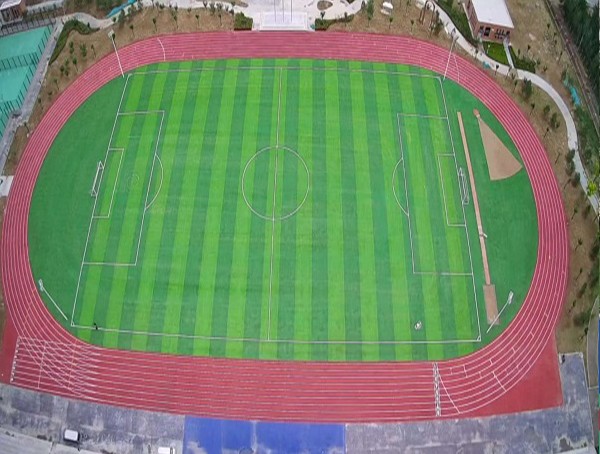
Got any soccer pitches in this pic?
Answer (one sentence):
Yes, there is a soccer pitch in the image.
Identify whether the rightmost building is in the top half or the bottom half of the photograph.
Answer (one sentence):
It is in the top half that the rightmost building appears.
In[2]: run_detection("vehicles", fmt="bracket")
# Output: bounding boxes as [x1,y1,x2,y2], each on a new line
[155,447,179,454]
[63,430,83,445]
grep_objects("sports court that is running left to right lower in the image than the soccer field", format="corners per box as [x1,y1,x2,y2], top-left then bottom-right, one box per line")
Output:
[183,415,346,454]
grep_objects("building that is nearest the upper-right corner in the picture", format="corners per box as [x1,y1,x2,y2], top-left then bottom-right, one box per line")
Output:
[459,0,515,46]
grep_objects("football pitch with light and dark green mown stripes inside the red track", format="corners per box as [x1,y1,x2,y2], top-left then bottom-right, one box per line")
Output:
[28,60,538,362]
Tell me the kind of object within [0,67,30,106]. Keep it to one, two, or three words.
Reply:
sports court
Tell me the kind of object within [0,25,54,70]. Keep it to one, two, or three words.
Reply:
sports court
